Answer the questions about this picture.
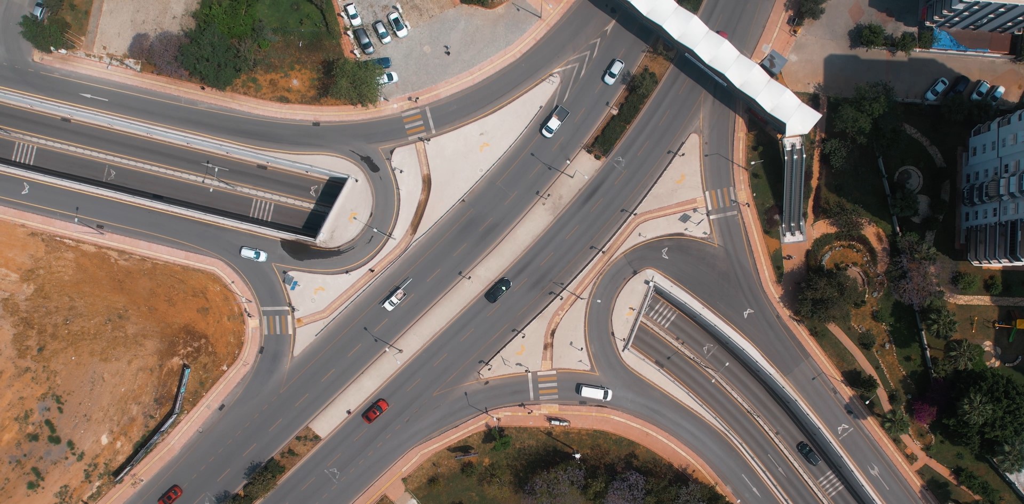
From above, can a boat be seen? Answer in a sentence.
No, there isn't any boat down there.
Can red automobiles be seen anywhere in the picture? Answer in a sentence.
Yes, a red automobile can be made out from above.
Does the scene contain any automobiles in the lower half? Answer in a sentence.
Yes, the scene does show an automobile in the lower half.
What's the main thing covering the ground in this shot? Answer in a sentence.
The largest share of the image is taken up by paved ground.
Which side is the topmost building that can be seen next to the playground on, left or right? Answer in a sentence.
You can find the topmost building that can be seen next to the playground on the right side of the picture.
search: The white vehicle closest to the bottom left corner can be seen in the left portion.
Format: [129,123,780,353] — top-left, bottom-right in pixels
[236,245,267,262]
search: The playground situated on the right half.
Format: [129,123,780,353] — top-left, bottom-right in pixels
[953,305,1024,368]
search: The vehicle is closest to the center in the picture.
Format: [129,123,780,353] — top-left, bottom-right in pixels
[484,277,512,304]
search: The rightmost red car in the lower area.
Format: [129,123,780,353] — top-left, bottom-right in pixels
[360,399,389,426]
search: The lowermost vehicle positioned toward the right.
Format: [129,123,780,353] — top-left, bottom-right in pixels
[797,439,826,471]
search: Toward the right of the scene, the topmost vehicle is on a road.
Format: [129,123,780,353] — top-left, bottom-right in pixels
[717,21,735,41]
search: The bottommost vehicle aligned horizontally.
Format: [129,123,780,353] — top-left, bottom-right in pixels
[577,385,613,403]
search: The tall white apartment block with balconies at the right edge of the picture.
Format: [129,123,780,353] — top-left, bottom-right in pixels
[952,108,1024,273]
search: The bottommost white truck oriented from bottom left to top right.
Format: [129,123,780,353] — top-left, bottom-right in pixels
[375,279,410,313]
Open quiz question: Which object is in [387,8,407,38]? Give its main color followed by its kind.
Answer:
white car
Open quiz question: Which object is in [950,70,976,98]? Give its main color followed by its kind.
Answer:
black car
